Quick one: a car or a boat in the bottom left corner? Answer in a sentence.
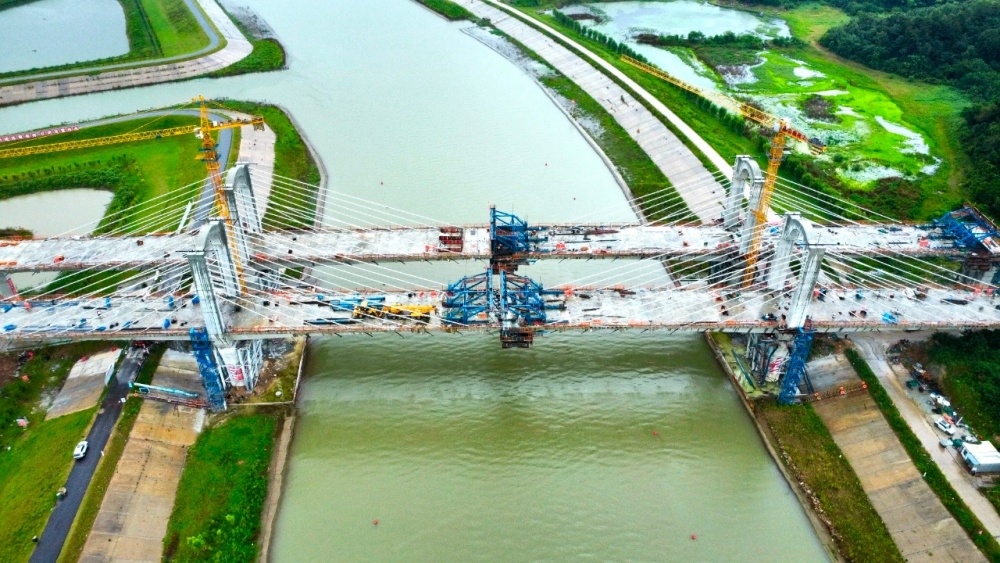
There is a car in the bottom left corner.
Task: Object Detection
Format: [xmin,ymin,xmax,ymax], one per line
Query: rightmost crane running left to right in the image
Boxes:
[383,298,443,322]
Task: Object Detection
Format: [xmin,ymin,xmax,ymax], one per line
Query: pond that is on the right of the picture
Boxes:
[557,0,779,133]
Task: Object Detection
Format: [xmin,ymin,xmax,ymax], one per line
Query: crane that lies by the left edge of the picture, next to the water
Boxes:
[0,94,271,368]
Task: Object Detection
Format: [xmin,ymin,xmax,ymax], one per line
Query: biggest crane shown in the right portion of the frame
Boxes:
[614,47,835,360]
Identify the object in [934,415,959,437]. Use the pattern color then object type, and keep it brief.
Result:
white car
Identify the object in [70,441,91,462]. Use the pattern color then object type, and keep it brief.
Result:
white car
